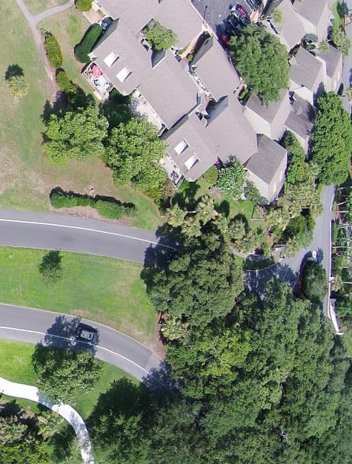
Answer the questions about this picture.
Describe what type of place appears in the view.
residential area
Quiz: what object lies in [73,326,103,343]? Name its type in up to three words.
car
